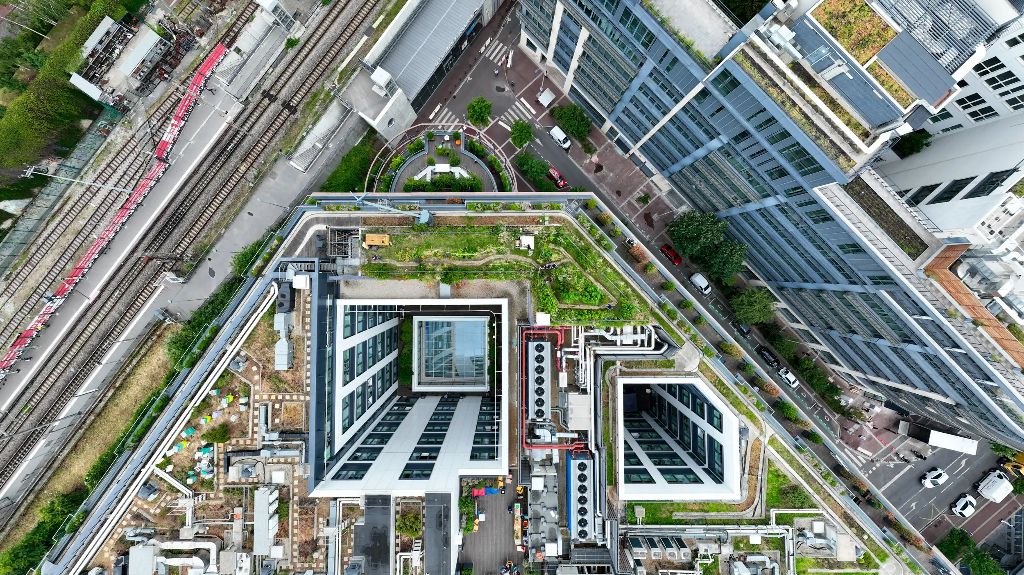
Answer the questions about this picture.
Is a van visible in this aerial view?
Yes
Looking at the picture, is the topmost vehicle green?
No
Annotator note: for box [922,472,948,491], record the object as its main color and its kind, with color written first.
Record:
white car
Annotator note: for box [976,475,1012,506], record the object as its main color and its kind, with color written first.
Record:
white van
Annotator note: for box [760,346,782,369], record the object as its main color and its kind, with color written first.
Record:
black car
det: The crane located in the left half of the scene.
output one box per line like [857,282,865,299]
[350,191,436,226]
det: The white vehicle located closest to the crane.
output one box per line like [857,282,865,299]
[549,124,572,148]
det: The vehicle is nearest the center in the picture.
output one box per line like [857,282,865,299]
[547,162,568,187]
